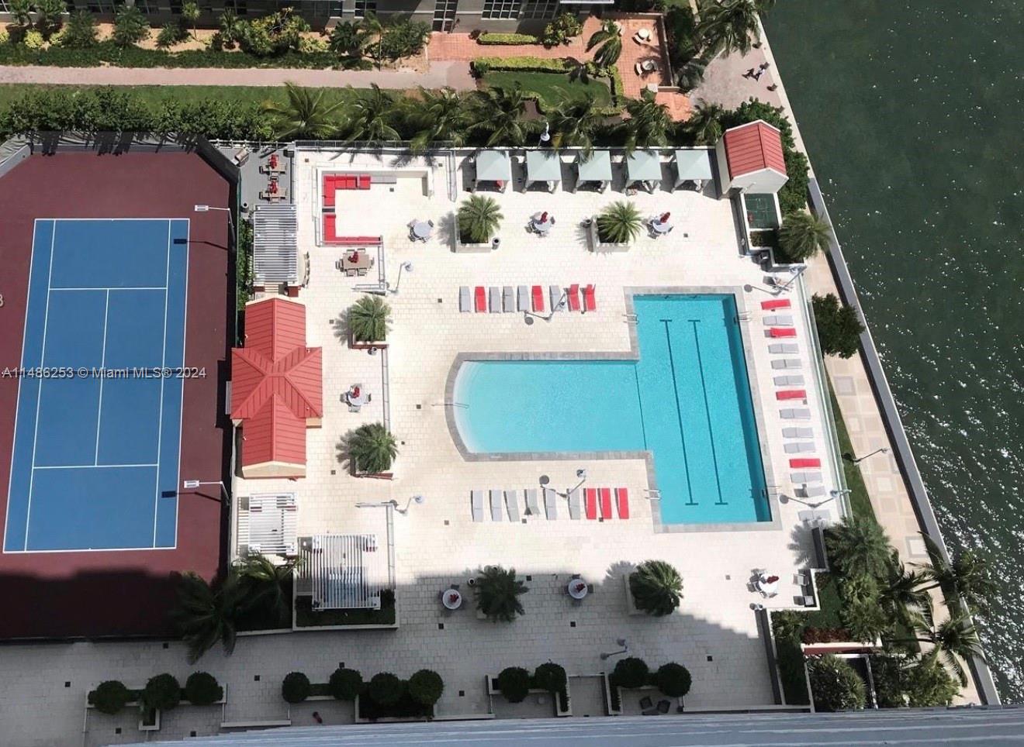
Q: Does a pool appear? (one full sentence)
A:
Yes, this view includes a pool.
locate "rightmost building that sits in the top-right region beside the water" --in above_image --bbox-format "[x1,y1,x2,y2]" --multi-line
[715,121,791,195]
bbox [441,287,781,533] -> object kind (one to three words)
swimming pool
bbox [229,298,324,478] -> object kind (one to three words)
building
